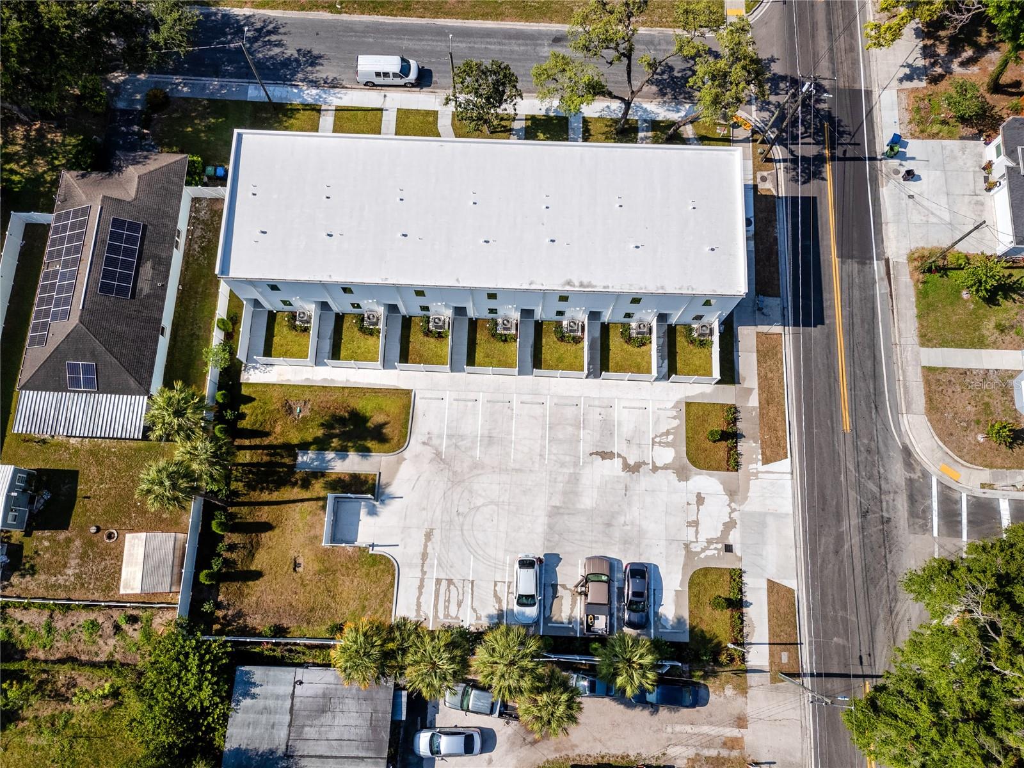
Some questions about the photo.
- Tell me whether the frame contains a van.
Yes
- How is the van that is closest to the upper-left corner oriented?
from side to side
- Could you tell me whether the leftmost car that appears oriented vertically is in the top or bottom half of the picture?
bottom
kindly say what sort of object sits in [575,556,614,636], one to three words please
truck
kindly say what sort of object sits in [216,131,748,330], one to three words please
building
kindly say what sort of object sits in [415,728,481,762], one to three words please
car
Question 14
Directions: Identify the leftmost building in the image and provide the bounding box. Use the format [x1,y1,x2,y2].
[0,465,38,530]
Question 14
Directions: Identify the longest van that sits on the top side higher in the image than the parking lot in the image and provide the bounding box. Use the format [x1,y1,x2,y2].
[354,56,420,90]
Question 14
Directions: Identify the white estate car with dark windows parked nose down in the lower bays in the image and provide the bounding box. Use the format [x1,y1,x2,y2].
[512,556,542,622]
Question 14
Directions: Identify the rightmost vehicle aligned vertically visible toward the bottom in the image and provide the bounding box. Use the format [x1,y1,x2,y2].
[622,564,651,628]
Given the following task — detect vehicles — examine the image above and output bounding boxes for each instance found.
[632,678,701,711]
[512,556,542,622]
[575,556,614,636]
[447,687,527,729]
[415,728,481,762]
[622,564,651,628]
[354,56,420,90]
[566,667,633,704]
